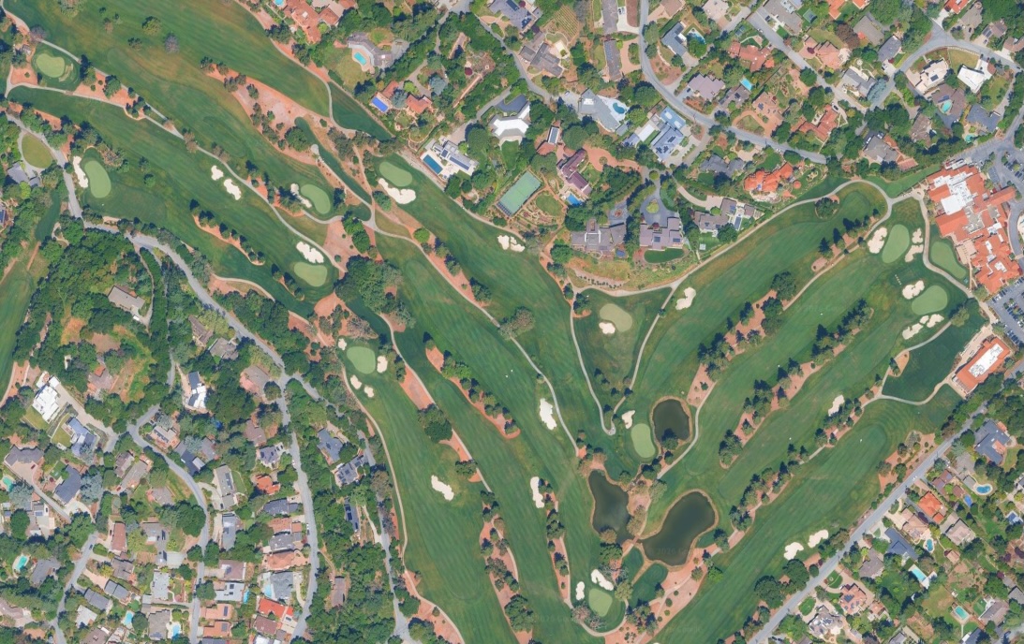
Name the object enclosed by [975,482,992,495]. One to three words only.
swimming pool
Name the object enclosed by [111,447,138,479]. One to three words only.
house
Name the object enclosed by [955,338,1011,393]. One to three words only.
building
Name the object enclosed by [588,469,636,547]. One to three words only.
pond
